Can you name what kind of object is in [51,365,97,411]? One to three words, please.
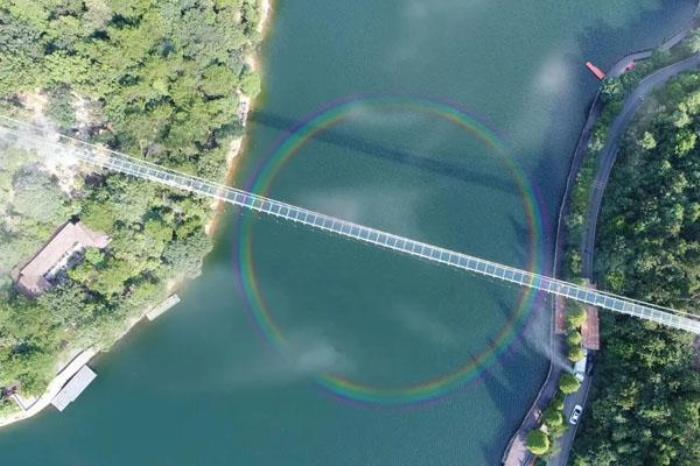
pier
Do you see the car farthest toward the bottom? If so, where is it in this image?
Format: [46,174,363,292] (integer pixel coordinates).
[571,405,584,426]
